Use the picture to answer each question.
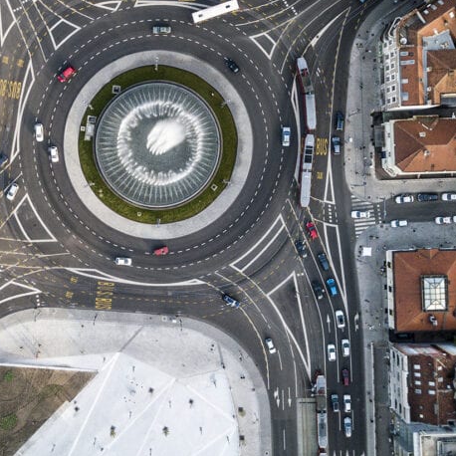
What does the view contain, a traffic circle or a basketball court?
traffic circle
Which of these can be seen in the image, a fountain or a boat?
fountain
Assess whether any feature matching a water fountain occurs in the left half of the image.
Yes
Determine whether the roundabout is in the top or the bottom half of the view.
top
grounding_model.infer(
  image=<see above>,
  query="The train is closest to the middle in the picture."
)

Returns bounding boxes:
[298,134,314,207]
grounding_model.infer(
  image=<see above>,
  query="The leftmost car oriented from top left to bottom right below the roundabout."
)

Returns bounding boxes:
[221,293,239,307]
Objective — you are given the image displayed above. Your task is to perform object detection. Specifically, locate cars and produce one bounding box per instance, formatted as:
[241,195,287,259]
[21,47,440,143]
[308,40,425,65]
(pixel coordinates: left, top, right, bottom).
[295,239,309,258]
[223,57,240,75]
[442,193,456,202]
[221,293,239,307]
[334,111,344,130]
[153,245,169,256]
[336,310,345,328]
[265,337,275,354]
[342,338,350,356]
[318,251,329,271]
[50,145,58,162]
[56,65,75,81]
[344,419,352,435]
[114,257,133,266]
[341,367,350,385]
[395,195,413,204]
[419,193,437,203]
[343,394,351,413]
[153,25,170,33]
[281,127,289,145]
[313,281,324,300]
[326,279,337,296]
[332,137,341,154]
[7,183,20,200]
[305,221,318,239]
[352,211,371,218]
[434,216,453,224]
[391,219,407,227]
[327,343,337,361]
[35,124,44,140]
